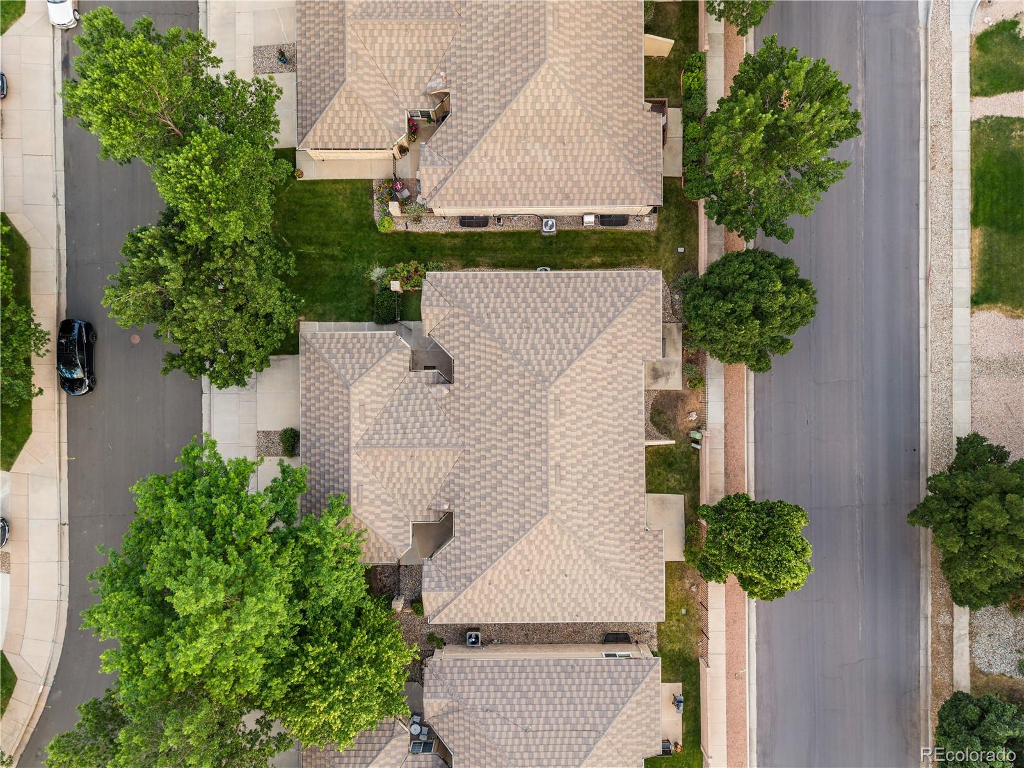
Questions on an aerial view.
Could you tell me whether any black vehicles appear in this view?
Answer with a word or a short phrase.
Yes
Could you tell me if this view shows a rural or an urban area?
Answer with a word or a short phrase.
urban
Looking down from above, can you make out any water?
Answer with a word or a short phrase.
No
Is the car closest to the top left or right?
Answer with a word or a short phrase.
left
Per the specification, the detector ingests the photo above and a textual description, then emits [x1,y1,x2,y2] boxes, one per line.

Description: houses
[299,643,663,768]
[300,0,666,216]
[299,271,666,624]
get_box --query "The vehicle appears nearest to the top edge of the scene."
[40,0,79,23]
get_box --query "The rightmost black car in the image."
[53,320,98,396]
